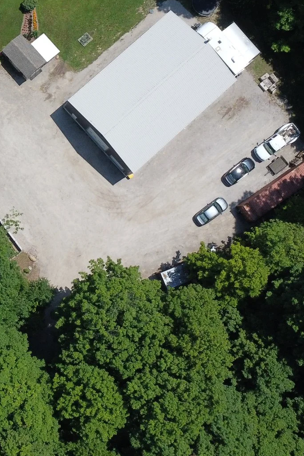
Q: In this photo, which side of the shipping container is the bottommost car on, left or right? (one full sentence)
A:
To the left of the shipping container is where the bottommost car appears.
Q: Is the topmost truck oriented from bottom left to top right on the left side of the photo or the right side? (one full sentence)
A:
The topmost truck oriented from bottom left to top right sits on the right side.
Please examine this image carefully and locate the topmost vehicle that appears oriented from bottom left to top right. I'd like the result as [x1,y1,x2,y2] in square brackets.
[250,122,302,165]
